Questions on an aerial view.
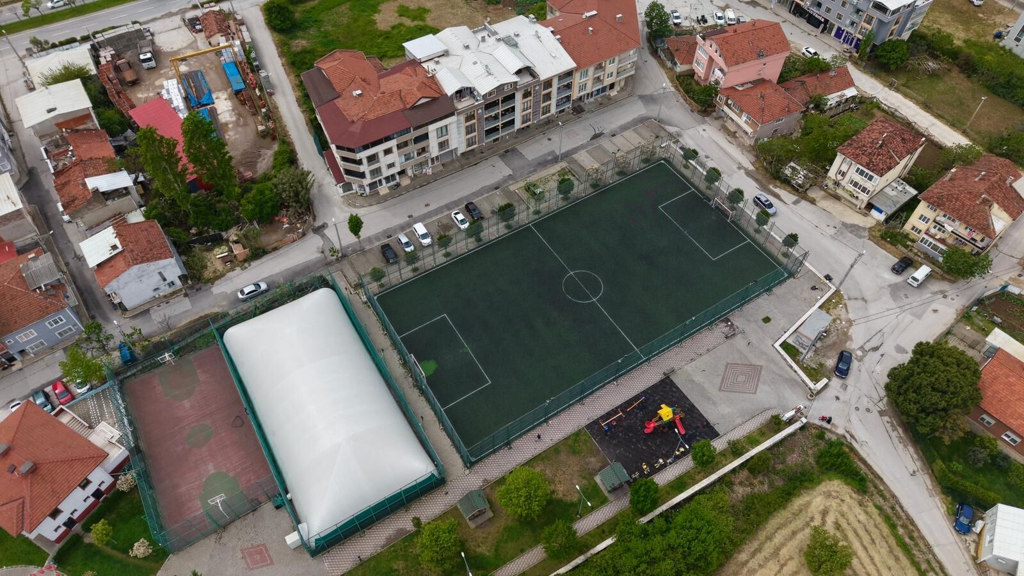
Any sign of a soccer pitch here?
Yes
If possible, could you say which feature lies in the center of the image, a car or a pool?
car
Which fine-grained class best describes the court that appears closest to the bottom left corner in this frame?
basketball court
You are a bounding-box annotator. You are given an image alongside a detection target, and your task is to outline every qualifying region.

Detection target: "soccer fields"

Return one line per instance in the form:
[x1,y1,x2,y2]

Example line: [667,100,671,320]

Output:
[368,156,794,465]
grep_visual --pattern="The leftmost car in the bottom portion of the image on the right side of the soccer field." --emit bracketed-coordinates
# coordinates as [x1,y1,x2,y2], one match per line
[834,349,852,378]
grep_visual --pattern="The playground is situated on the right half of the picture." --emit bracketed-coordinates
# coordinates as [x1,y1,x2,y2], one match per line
[587,378,719,488]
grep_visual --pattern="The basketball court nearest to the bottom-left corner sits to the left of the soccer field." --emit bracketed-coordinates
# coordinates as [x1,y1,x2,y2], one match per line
[126,350,278,547]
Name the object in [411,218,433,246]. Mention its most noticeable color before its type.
white vehicle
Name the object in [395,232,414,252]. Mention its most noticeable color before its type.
white car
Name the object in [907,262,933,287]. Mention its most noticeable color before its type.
white vehicle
